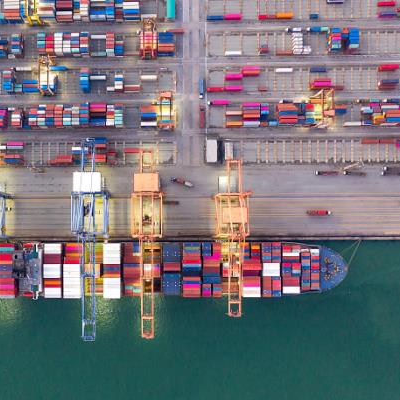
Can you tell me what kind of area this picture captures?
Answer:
port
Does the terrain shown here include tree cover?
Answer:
No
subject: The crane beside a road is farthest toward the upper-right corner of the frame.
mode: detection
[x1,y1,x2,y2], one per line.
[312,89,338,132]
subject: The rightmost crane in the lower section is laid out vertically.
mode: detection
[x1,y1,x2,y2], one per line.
[204,161,252,320]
